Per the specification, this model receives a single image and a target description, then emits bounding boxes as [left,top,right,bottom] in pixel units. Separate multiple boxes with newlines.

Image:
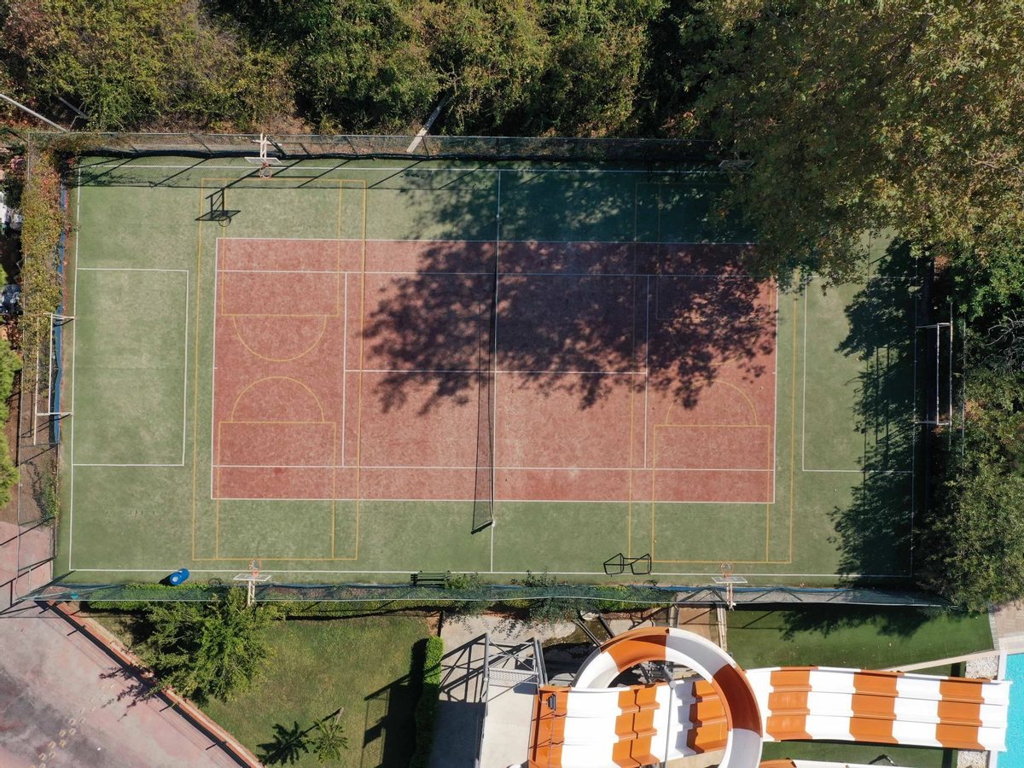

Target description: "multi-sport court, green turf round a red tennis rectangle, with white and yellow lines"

[53,152,931,590]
